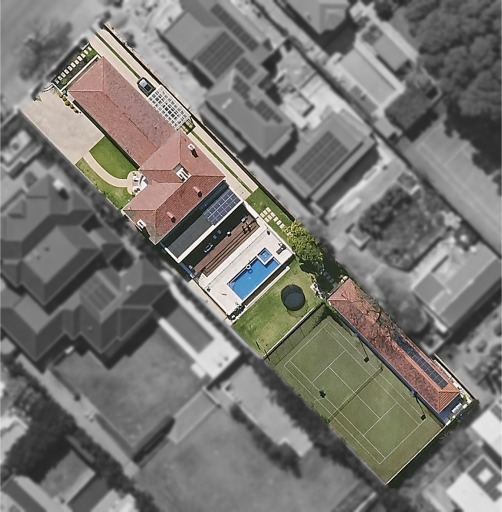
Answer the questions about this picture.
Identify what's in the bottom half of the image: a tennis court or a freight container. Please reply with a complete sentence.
Visible in the bottom half of the image is a tennis court.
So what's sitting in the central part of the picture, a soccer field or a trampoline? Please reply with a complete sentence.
You can see a trampoline in the central part of the picture.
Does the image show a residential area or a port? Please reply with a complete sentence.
It's a residential area.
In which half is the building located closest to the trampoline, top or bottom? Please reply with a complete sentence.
The building located closest to the trampoline is in the bottom half of the image.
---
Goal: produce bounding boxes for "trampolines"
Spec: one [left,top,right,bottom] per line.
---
[282,287,306,311]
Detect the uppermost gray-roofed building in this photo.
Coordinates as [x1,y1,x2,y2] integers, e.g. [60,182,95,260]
[287,0,351,36]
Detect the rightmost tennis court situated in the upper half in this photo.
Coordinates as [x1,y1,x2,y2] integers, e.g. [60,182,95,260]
[407,124,502,249]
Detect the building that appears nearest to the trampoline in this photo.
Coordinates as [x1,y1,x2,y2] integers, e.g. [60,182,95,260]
[326,278,460,415]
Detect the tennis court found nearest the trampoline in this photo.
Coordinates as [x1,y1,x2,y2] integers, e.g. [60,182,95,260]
[266,304,446,483]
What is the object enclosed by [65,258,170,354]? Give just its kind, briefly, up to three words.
house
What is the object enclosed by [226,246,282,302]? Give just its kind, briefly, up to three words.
swimming pool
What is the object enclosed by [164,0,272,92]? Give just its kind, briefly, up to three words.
house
